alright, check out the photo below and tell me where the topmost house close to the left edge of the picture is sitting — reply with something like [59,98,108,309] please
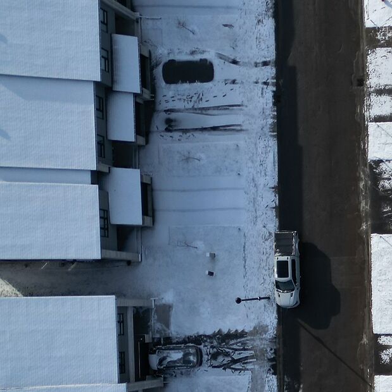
[0,0,154,106]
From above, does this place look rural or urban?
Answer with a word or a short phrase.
urban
